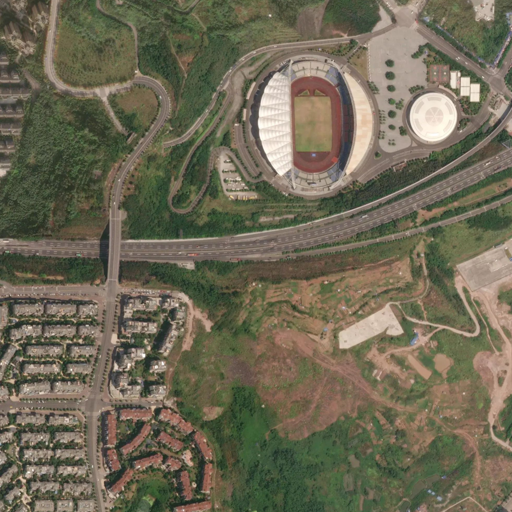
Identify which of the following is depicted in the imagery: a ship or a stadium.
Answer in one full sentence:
Visible in the photo is a stadium.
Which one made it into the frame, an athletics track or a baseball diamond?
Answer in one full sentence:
The one in the frame is an athletics track.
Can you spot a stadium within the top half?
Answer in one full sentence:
Yes, there is a stadium within the top half.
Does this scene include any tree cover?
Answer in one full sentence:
Yes, some tree cover is visible.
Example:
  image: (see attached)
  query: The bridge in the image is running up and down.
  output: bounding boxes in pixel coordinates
[109,208,121,276]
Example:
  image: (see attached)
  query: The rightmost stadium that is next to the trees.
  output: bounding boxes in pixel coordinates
[400,83,466,150]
